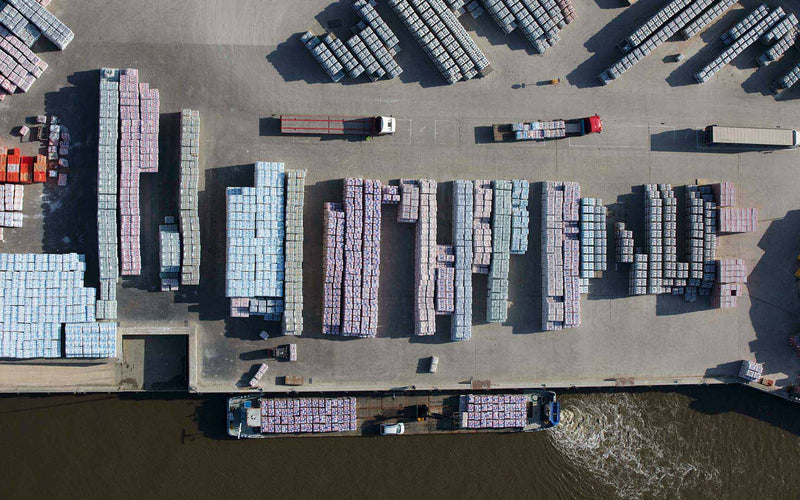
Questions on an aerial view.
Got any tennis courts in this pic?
No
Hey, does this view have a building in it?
No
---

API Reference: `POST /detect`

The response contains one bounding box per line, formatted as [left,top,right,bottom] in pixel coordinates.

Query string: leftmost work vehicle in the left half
[265,345,290,359]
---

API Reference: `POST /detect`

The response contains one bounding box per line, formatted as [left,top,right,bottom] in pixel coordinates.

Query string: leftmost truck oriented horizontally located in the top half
[280,112,394,134]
